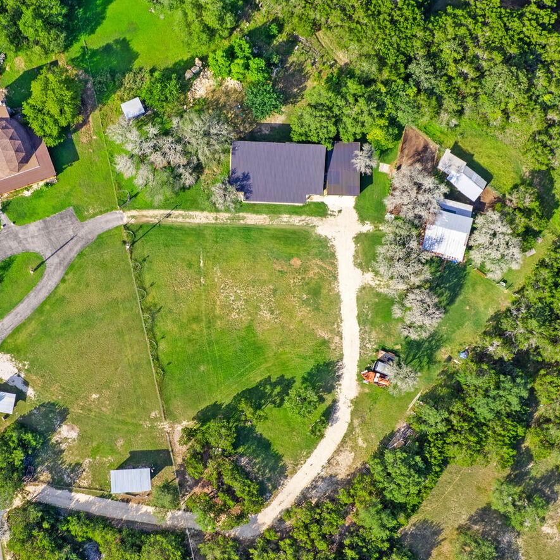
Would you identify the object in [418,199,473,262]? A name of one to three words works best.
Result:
barn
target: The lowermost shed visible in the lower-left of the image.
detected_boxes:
[110,465,151,494]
